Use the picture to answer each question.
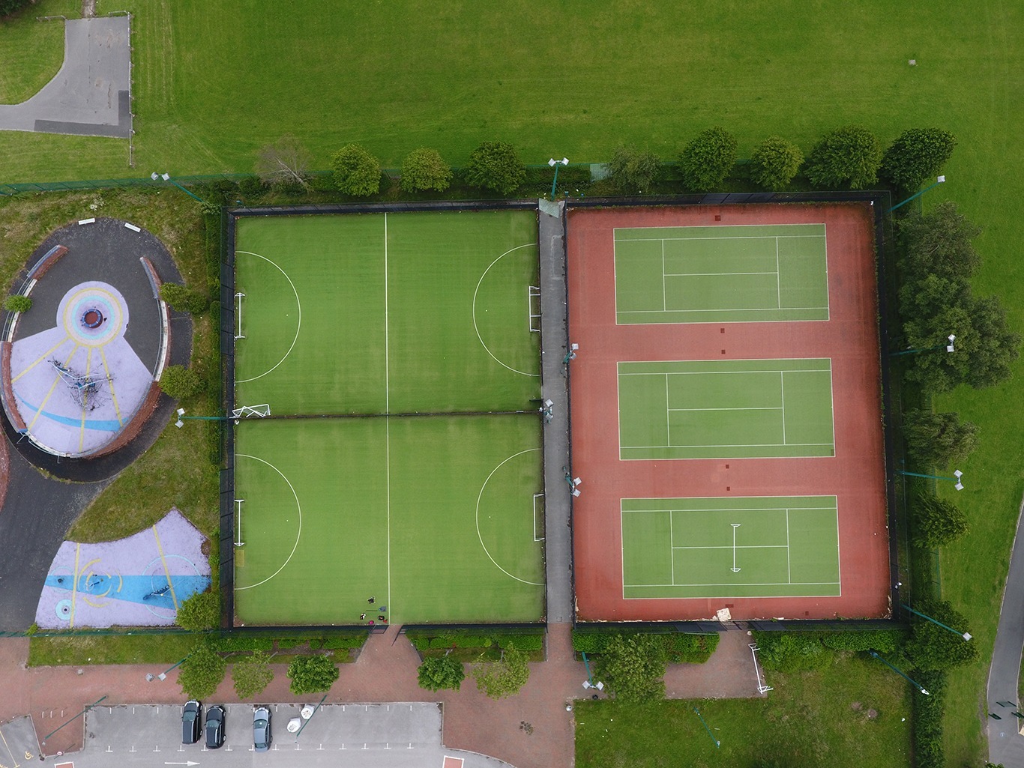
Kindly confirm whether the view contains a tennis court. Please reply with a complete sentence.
Yes, the image includes a tennis court.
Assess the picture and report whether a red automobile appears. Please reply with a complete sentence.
No, I can see no red automobile in this picture.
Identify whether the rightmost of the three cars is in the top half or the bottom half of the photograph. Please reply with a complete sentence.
The rightmost of the three cars sits in the bottom half of the picture.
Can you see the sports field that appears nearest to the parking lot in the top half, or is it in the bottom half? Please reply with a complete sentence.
You can find the sports field that appears nearest to the parking lot in the bottom half.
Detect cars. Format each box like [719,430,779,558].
[202,705,225,749]
[250,707,272,752]
[179,701,202,743]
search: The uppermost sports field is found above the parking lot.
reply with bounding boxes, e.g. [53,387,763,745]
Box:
[235,209,541,416]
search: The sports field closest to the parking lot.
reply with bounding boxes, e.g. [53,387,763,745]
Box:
[234,413,545,627]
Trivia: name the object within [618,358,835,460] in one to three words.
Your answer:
tennis court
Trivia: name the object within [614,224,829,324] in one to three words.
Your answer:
tennis court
